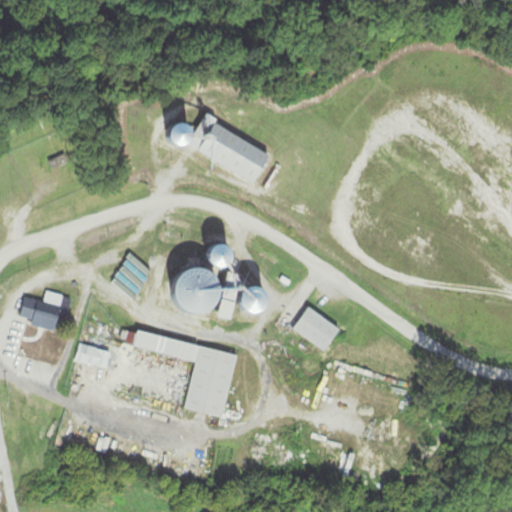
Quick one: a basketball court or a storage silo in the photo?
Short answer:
storage silo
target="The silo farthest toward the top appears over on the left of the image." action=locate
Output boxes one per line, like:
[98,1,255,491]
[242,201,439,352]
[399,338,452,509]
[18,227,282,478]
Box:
[168,122,194,150]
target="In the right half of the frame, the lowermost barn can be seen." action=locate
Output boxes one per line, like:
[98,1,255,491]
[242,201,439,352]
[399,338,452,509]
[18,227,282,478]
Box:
[294,308,340,350]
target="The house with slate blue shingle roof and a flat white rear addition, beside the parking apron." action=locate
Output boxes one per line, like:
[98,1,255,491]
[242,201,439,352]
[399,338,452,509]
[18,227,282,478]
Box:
[18,290,70,332]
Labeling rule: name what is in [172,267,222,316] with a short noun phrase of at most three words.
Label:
silo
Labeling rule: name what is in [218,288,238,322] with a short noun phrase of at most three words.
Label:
shed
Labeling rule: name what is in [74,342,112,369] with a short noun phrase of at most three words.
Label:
shed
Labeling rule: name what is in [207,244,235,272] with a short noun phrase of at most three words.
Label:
silo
